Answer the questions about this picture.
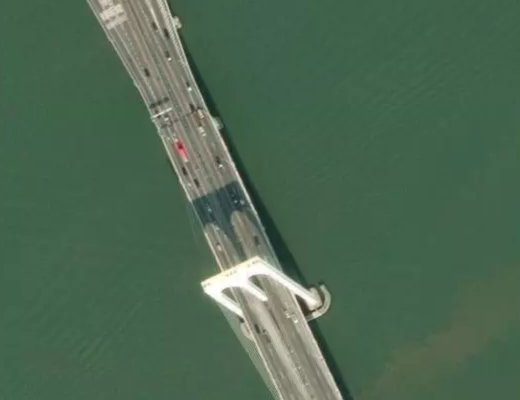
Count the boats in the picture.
zero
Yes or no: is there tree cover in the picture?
No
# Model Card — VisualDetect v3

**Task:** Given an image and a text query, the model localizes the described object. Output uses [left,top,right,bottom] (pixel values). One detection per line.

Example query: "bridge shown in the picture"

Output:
[87,0,344,400]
